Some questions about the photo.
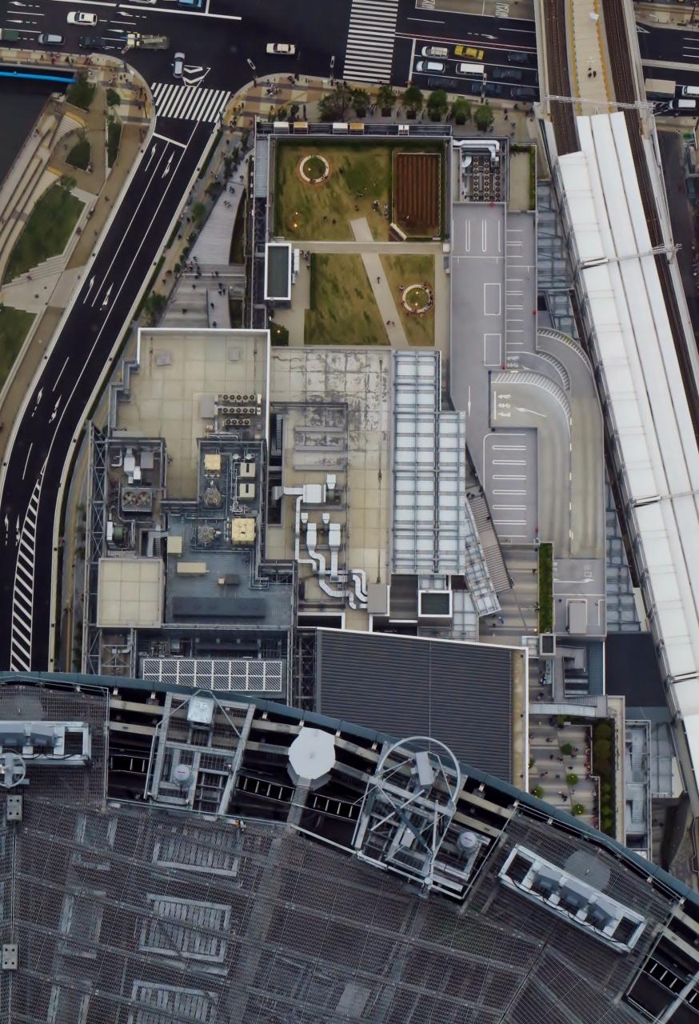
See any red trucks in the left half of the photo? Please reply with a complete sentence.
No, no red truck can be made out in the left half of the photo.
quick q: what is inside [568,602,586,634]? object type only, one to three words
shed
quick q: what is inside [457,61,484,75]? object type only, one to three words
vehicle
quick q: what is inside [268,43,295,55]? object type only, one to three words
vehicle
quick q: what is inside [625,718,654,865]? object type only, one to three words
building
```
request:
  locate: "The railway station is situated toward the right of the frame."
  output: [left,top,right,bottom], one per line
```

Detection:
[538,0,699,797]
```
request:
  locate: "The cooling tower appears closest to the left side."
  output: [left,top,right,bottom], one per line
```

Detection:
[122,487,154,515]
